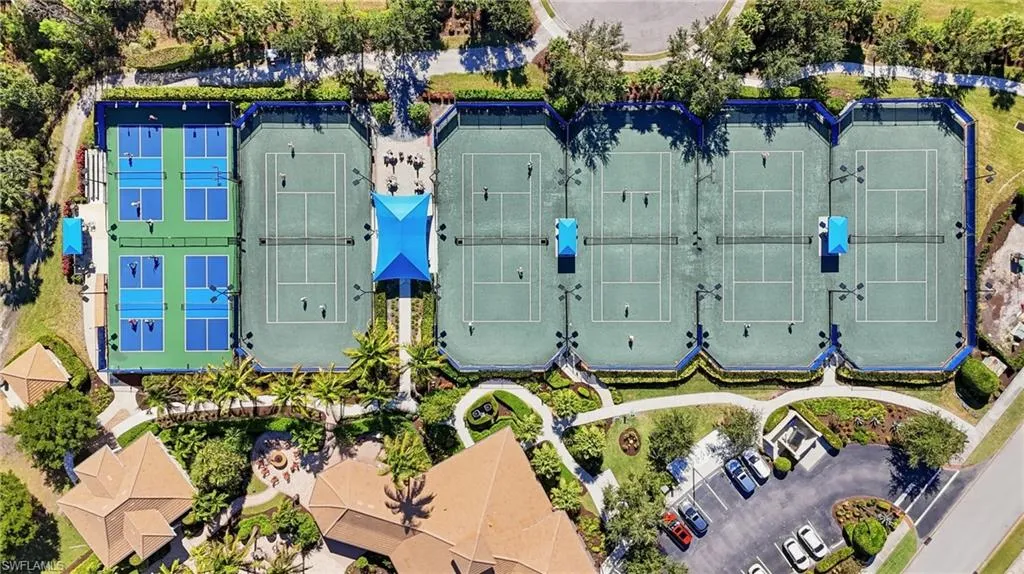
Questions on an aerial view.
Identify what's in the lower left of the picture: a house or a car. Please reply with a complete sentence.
The feature located in the lower left of the picture is a house.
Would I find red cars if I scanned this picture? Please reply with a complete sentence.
Yes, a red car appears in the view.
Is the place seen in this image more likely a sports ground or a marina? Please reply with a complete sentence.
The picture captures a sports ground.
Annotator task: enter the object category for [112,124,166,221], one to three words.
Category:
sports court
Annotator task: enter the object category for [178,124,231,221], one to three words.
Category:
sports court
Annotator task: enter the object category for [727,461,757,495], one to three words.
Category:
car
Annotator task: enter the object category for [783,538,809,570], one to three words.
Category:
car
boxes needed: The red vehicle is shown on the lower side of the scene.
[663,512,693,546]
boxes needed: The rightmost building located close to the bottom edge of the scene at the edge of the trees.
[308,428,599,574]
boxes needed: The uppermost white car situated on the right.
[743,449,773,483]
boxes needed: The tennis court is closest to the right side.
[830,105,966,367]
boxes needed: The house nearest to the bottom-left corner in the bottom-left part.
[56,430,198,568]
